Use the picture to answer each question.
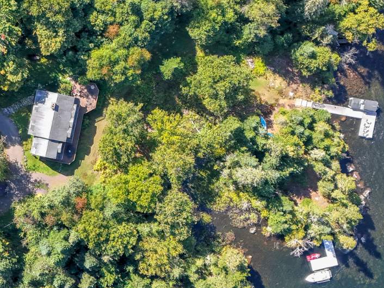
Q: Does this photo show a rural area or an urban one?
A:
rural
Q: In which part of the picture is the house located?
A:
left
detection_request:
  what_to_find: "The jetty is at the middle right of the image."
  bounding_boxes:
[324,103,376,138]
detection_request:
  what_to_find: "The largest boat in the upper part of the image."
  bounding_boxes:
[349,98,381,112]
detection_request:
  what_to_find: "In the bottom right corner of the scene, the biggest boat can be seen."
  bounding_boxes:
[307,268,334,283]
